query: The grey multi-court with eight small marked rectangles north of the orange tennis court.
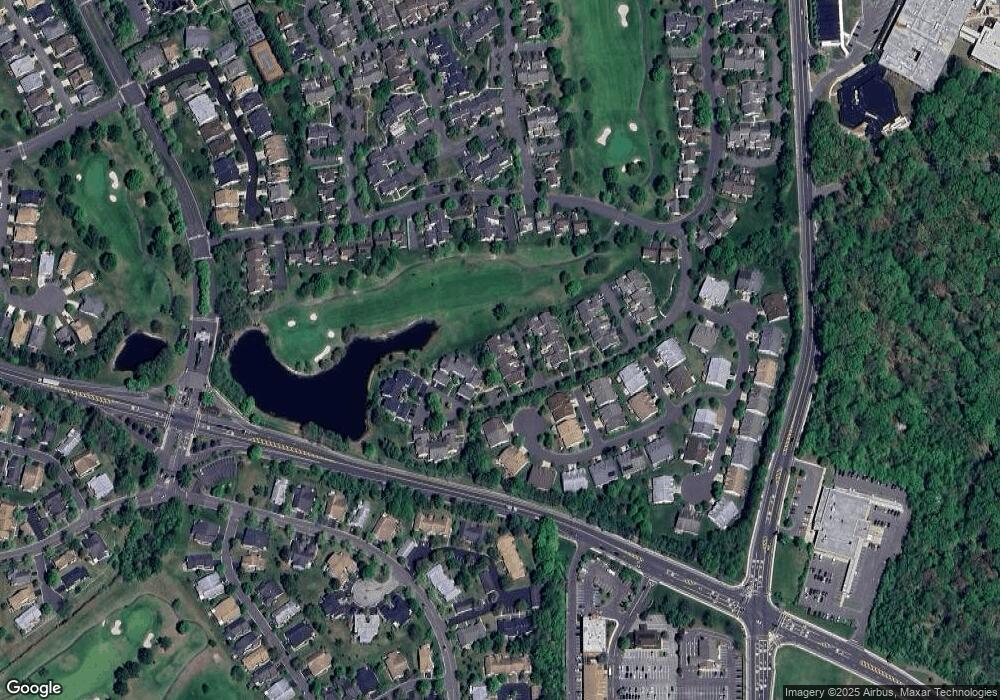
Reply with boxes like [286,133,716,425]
[232,5,264,46]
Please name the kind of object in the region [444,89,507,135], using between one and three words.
house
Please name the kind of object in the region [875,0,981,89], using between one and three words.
building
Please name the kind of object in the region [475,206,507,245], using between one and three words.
house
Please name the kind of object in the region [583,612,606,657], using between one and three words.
building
